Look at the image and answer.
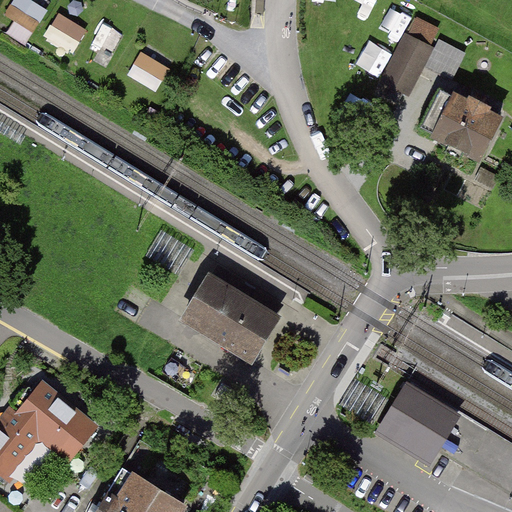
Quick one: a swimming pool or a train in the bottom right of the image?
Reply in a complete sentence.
It is a train that can be seen in the bottom right of the image.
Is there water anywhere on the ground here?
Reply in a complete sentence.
No, there's no water in this view.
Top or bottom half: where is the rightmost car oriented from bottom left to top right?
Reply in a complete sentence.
The rightmost car oriented from bottom left to top right sits in the bottom half of the picture.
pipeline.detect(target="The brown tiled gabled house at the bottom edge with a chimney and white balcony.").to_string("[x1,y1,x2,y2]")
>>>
[102,468,188,512]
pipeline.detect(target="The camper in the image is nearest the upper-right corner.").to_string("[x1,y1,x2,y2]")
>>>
[388,12,412,46]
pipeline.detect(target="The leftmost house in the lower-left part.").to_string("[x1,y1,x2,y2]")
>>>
[0,380,98,496]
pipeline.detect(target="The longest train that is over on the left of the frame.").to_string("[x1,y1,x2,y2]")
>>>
[35,111,272,262]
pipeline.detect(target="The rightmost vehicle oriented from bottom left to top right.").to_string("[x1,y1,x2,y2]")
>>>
[430,455,450,478]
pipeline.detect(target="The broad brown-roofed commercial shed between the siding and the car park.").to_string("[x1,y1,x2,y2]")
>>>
[376,381,460,466]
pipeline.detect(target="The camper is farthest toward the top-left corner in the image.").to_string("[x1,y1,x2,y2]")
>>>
[92,22,112,52]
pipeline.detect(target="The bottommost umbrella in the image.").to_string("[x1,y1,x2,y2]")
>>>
[8,490,23,505]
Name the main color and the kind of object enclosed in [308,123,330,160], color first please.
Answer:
white camper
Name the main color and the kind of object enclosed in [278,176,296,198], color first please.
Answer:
white car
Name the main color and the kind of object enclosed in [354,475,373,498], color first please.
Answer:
white car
